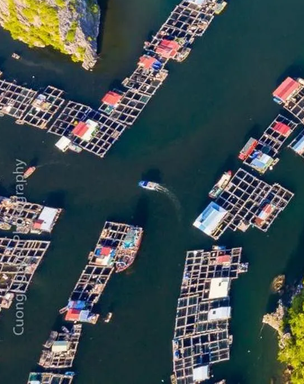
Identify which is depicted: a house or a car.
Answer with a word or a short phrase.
house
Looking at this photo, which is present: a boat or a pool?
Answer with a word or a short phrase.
boat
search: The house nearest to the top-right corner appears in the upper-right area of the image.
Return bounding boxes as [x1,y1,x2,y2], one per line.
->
[274,75,304,107]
